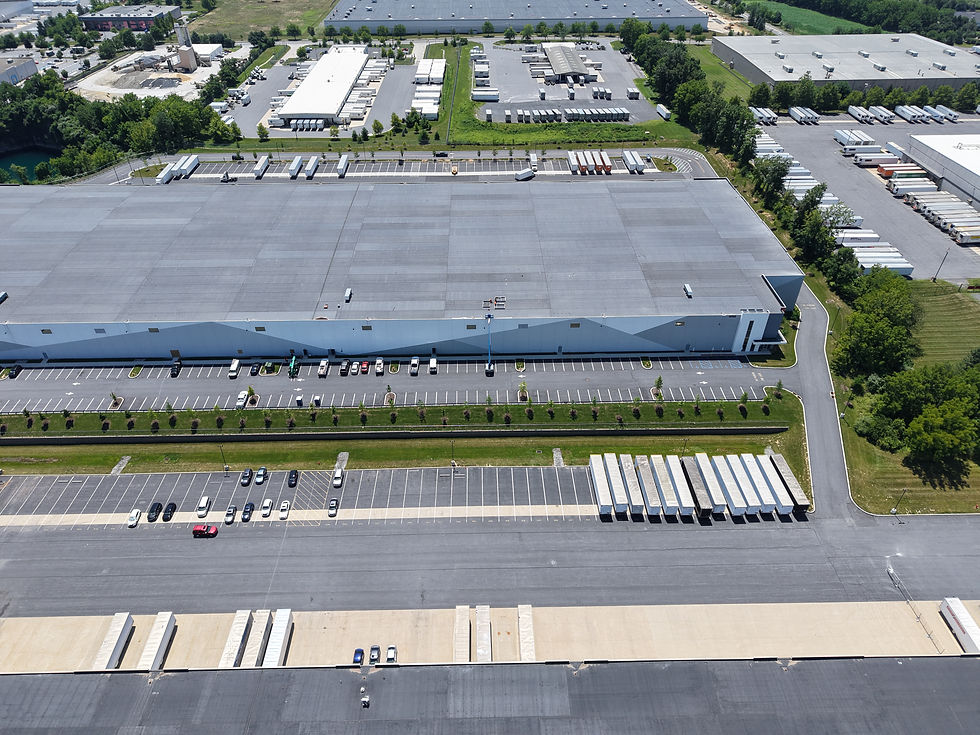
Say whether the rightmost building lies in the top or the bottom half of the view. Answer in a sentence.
The top half of the photo is where the rightmost building is.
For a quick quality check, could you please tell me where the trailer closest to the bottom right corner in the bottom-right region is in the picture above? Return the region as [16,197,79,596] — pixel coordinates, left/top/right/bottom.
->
[940,597,980,653]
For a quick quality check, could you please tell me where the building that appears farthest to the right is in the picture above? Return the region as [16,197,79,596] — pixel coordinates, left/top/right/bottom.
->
[902,133,980,204]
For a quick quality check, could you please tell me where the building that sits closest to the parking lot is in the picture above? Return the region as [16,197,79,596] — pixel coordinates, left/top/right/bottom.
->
[0,180,805,363]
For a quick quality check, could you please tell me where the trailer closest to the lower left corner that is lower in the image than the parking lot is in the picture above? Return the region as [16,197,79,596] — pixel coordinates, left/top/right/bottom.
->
[90,612,134,670]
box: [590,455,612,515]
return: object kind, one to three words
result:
trailer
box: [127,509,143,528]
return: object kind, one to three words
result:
car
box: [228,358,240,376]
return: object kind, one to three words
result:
vehicle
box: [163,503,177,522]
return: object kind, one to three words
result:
car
